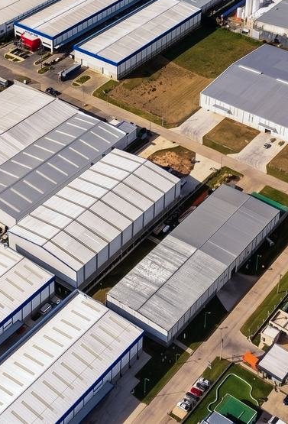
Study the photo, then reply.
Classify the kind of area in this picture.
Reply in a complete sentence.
What you see here is an industrial area.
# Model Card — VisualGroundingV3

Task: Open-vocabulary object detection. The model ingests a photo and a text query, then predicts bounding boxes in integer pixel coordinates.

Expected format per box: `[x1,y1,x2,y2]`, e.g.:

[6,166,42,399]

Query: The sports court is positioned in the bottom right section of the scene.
[208,373,258,424]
